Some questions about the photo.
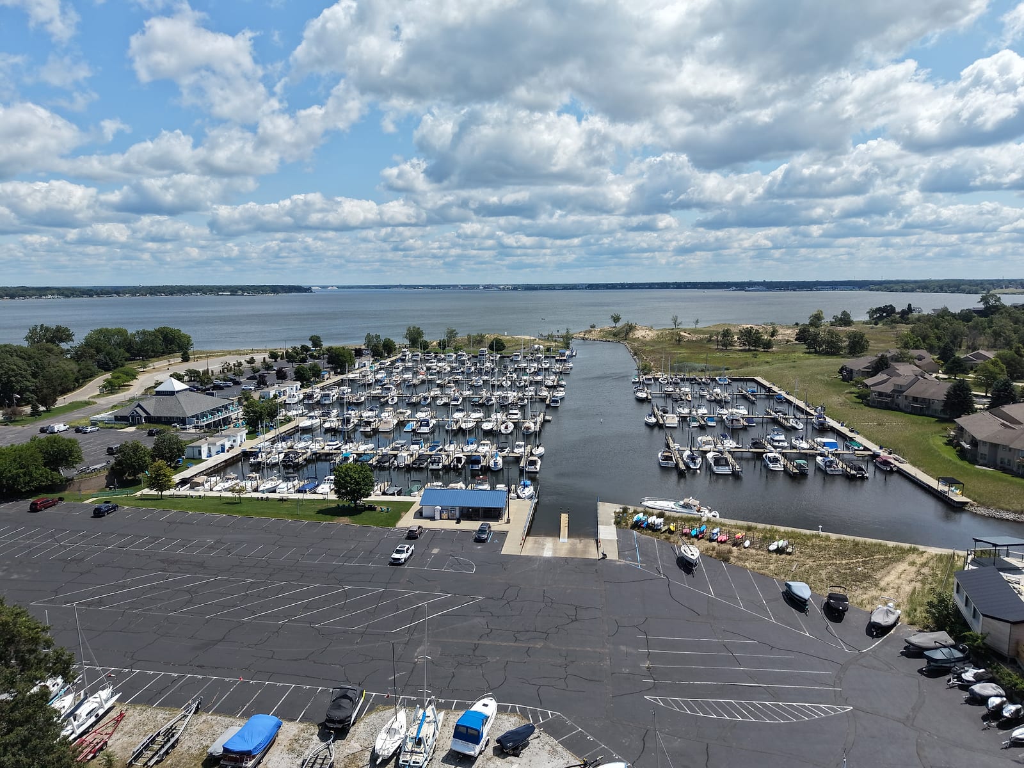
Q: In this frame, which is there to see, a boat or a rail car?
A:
boat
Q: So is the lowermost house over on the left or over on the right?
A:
right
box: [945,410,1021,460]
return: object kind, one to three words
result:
house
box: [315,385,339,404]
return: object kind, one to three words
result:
boat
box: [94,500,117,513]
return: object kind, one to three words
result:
vehicle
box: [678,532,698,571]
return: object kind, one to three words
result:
boat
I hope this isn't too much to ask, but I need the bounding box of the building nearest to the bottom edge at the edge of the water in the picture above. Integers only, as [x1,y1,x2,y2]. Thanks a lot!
[955,561,1024,658]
